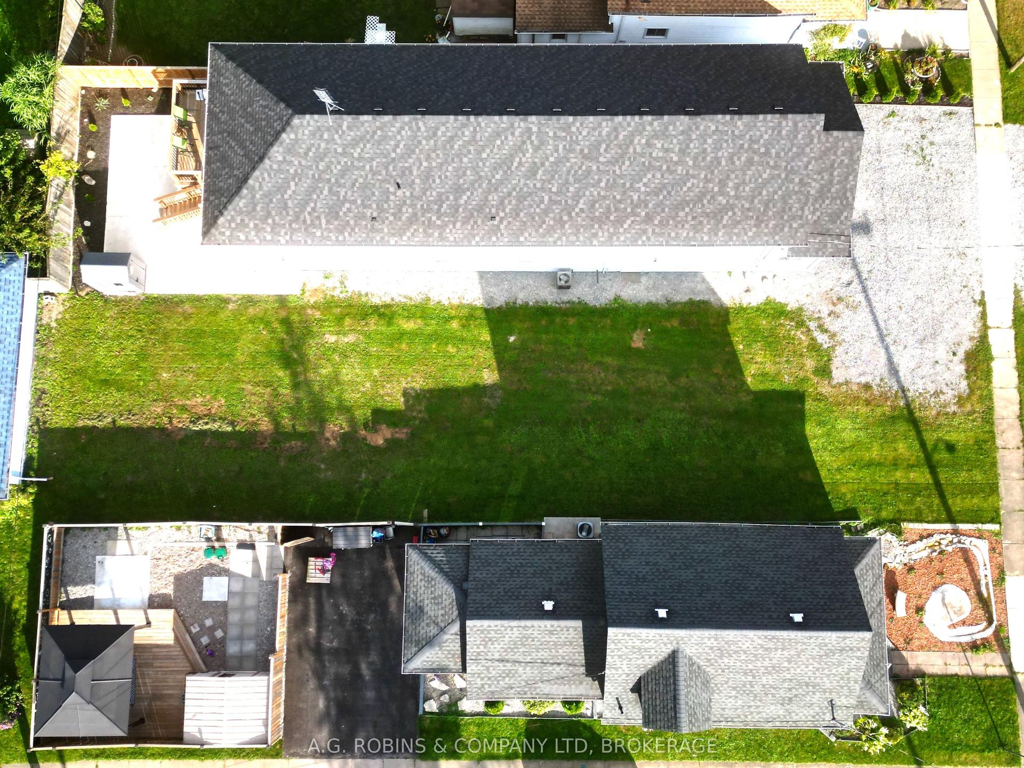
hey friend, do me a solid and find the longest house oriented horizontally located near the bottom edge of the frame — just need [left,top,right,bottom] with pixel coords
[401,520,892,734]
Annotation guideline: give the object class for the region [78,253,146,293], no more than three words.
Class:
shed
